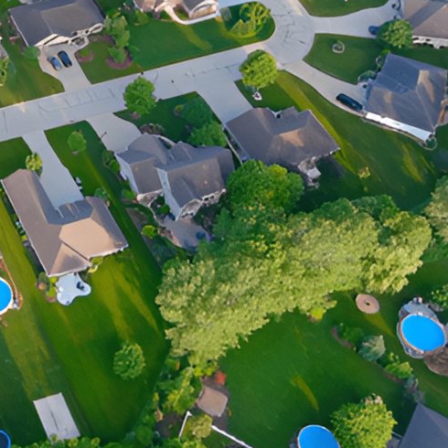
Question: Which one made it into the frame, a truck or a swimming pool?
swimming pool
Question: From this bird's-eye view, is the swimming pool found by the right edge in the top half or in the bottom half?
bottom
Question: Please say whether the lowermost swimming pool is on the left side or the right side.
right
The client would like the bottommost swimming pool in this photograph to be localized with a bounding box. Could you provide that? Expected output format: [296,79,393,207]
[289,418,343,448]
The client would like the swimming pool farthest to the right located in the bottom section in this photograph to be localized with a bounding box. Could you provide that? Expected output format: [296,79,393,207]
[395,312,447,352]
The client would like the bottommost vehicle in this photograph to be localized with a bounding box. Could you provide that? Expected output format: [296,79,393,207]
[339,88,365,107]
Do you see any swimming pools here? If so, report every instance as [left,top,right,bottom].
[395,312,447,352]
[0,278,16,315]
[289,418,343,448]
